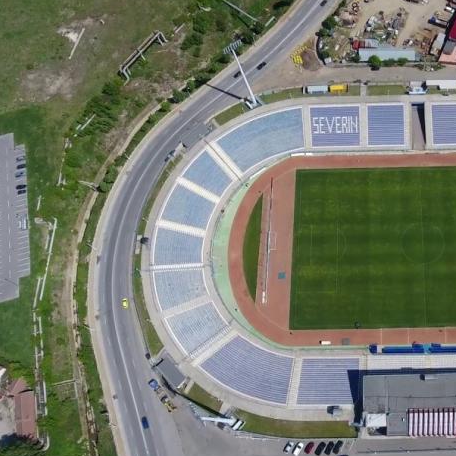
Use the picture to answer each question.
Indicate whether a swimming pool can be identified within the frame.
No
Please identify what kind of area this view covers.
sports ground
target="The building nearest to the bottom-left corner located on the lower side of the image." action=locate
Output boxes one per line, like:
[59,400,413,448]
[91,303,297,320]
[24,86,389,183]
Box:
[14,395,44,438]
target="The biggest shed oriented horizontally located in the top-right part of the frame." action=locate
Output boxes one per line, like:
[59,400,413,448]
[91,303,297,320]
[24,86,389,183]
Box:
[359,48,415,65]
